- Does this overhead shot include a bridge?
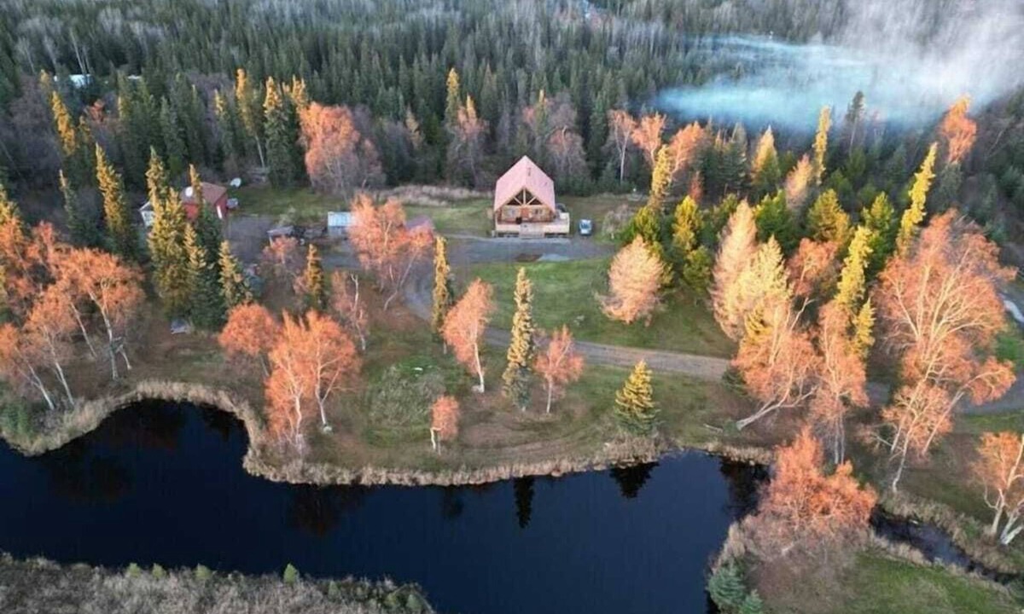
No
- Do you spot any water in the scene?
Yes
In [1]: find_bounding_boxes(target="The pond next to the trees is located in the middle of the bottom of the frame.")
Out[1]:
[0,403,1024,614]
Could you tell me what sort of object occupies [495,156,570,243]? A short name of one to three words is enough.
building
